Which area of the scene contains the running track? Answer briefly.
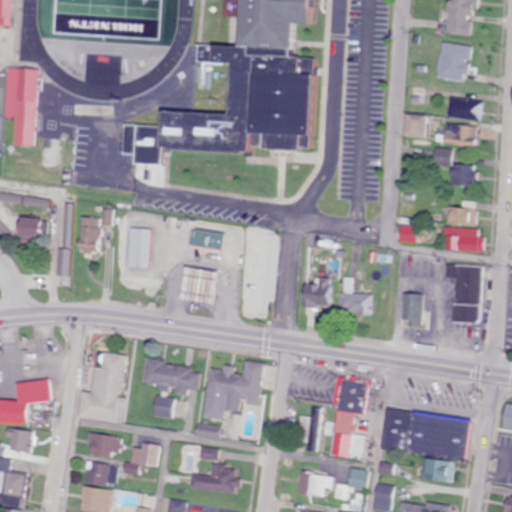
top left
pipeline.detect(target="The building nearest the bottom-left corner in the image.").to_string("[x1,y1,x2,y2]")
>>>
[0,472,30,509]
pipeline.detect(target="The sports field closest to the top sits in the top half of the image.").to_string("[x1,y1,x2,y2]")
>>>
[54,0,161,40]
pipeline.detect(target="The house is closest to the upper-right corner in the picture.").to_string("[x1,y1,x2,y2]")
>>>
[445,0,478,36]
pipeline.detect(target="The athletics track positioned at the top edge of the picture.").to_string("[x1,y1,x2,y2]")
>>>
[21,0,194,102]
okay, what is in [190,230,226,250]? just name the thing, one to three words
shed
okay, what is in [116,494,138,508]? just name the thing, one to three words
swimming pool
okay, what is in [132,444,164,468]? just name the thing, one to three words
building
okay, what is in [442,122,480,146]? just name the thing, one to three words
house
